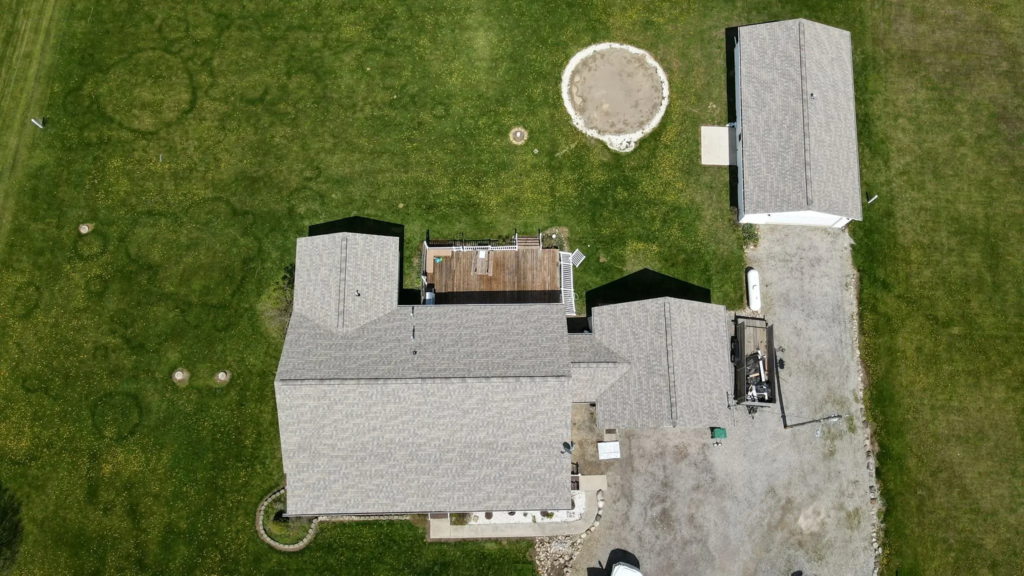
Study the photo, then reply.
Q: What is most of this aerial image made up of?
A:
grass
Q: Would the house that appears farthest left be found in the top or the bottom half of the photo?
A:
bottom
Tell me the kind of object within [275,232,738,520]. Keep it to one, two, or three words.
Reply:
house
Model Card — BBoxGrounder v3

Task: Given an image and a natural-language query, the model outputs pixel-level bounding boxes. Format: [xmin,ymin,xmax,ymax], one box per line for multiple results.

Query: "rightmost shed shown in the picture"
[734,19,863,229]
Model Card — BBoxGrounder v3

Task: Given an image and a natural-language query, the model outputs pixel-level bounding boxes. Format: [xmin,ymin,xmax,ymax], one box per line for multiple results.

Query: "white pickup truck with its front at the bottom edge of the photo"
[607,555,644,576]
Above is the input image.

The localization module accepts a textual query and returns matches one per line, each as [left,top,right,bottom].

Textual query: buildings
[275,232,738,520]
[734,19,863,229]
